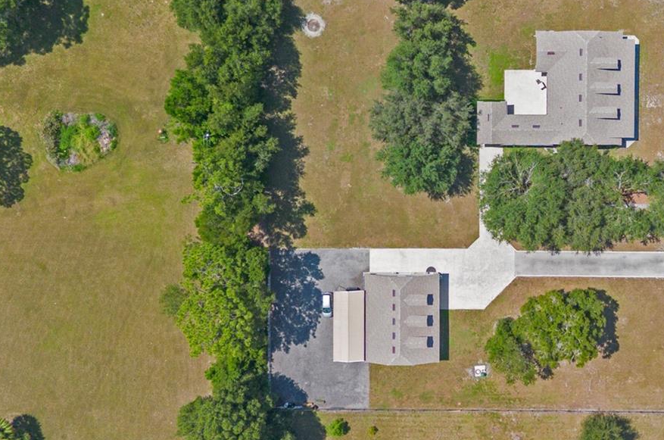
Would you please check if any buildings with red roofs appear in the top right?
No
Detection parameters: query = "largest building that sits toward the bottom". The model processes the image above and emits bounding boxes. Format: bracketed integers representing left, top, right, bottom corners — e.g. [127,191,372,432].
[366,272,440,363]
